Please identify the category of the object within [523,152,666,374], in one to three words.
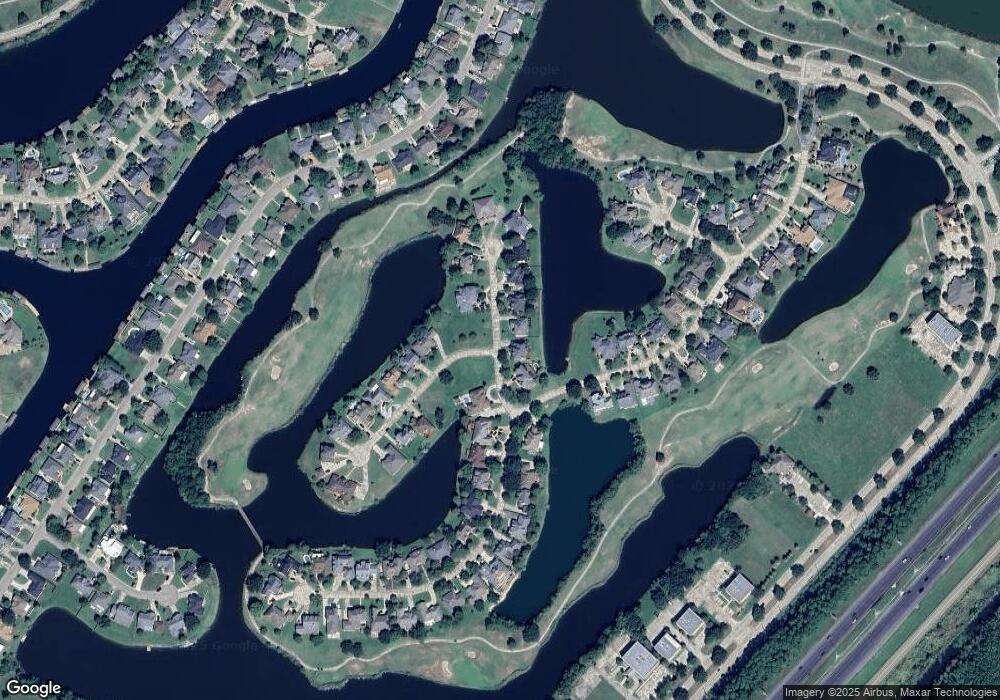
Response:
pond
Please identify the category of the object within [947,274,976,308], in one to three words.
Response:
building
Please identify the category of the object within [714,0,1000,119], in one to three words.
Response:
golf course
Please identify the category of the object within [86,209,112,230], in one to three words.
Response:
house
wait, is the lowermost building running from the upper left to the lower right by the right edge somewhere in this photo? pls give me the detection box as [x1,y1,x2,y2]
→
[924,312,964,347]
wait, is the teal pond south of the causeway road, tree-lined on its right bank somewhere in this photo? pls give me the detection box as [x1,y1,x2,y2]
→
[497,404,635,623]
